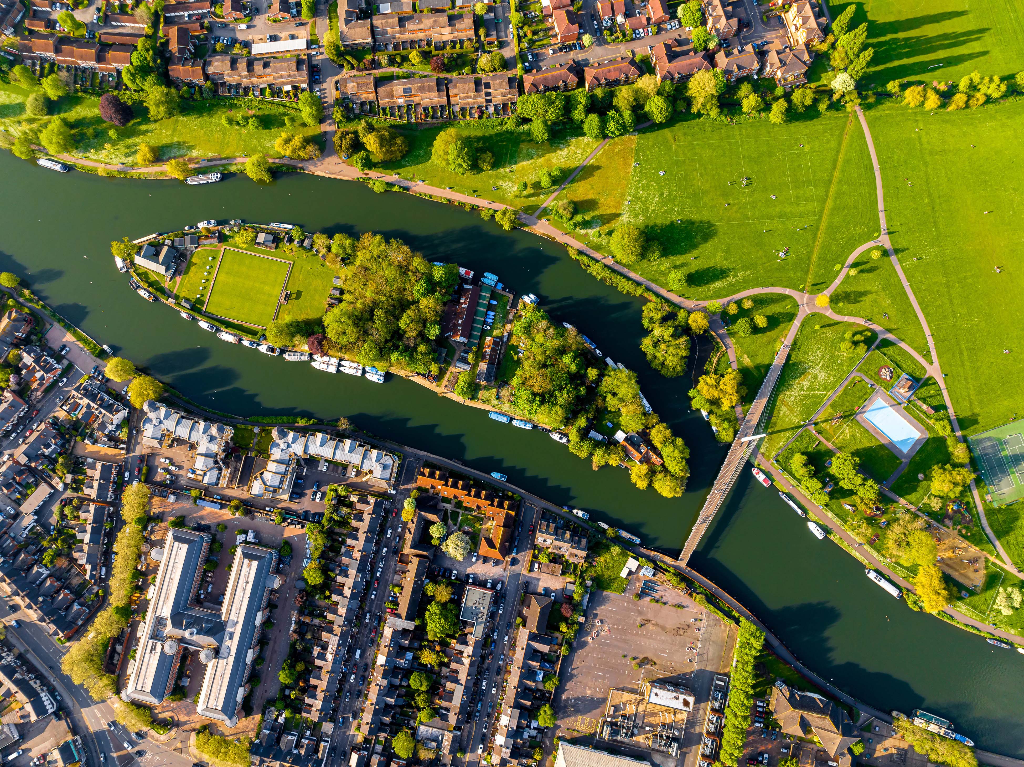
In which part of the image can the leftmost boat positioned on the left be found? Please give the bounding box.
[39,159,69,174]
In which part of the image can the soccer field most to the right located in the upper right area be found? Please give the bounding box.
[866,0,975,64]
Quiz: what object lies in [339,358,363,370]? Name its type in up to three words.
boat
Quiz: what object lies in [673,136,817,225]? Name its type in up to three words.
soccer field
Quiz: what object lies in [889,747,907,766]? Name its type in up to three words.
fountain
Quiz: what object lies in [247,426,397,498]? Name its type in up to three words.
building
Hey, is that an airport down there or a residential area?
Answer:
residential area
